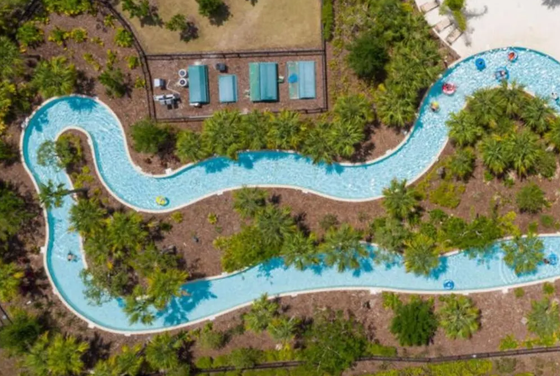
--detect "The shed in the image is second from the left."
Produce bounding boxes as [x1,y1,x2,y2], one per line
[219,75,239,102]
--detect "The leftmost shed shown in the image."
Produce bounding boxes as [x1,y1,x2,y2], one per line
[188,65,215,103]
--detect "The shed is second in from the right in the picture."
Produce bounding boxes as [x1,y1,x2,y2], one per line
[249,62,280,101]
